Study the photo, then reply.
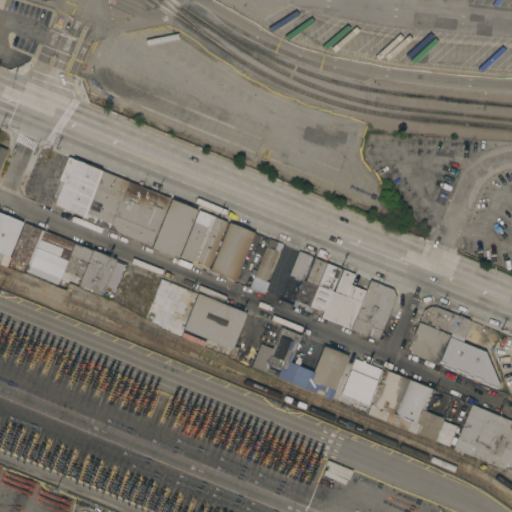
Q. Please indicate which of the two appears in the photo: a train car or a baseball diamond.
train car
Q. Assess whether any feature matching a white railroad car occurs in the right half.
Yes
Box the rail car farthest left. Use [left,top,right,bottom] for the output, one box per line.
[238,374,284,398]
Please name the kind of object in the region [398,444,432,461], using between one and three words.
rail car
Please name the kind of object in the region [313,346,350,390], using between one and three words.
building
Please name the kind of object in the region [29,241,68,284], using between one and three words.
building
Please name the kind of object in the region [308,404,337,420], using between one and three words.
rail car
